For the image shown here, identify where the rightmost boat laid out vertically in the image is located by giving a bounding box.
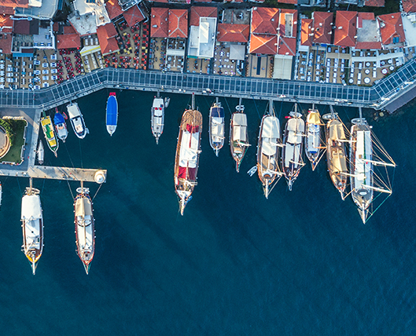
[343,108,393,223]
